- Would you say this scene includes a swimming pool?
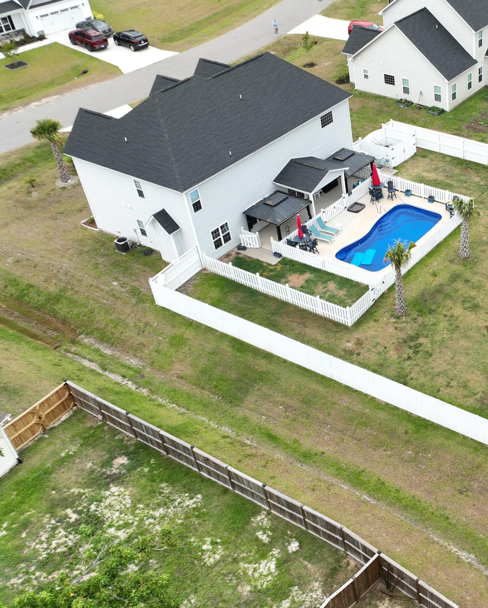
Yes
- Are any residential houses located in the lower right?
No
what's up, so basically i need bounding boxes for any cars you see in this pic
[74,14,107,31]
[68,27,106,50]
[345,18,382,33]
[112,28,149,50]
